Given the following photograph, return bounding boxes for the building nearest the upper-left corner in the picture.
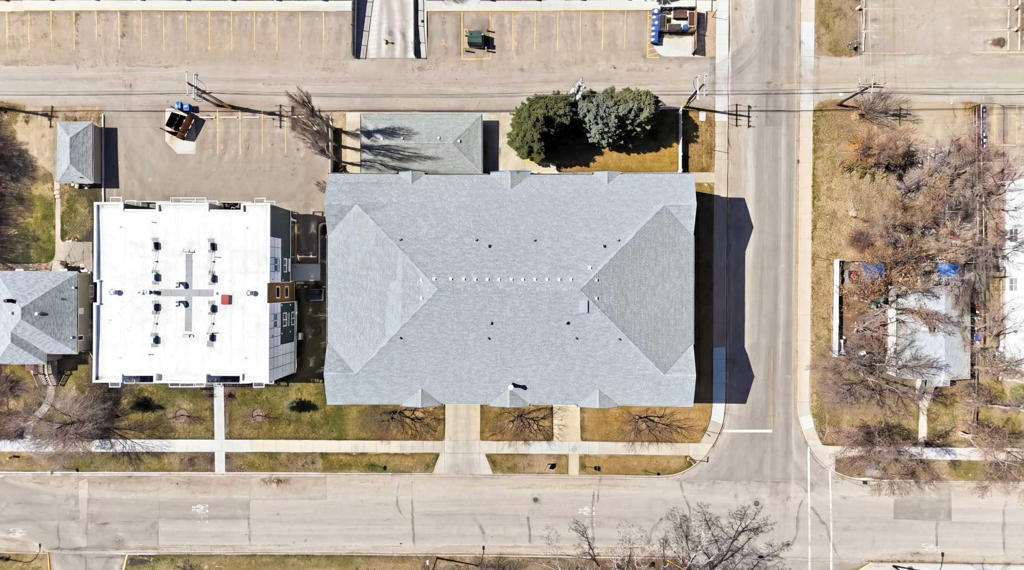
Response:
[57,121,101,183]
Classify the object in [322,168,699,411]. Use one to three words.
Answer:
building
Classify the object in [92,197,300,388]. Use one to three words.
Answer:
building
